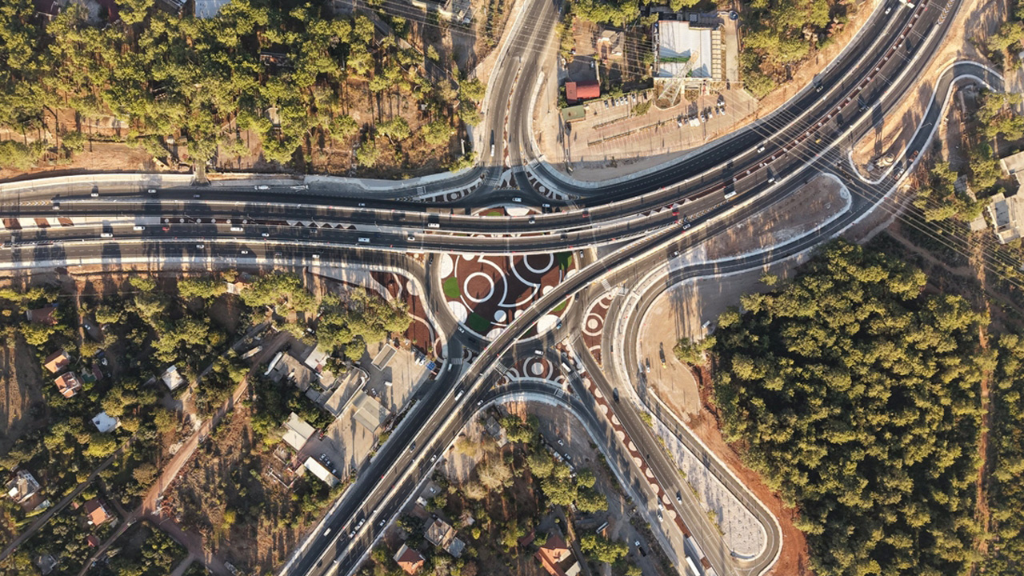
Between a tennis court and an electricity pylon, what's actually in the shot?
electricity pylon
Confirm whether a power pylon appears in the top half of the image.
Yes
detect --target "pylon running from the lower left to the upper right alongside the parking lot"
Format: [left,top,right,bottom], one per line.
[655,57,704,107]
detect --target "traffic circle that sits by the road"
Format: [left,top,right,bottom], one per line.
[418,186,596,364]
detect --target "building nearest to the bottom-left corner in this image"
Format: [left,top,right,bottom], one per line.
[36,552,61,574]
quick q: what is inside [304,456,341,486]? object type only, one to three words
shed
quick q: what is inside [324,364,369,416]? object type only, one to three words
building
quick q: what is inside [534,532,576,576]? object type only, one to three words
house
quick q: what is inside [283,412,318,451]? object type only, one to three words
barn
